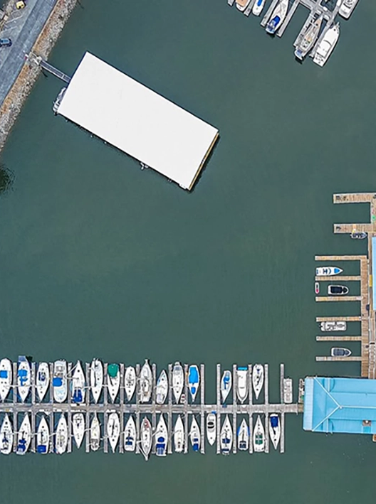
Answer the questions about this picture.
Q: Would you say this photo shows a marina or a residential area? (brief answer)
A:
marina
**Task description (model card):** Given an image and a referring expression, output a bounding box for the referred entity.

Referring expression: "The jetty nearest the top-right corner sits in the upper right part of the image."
[228,0,340,57]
